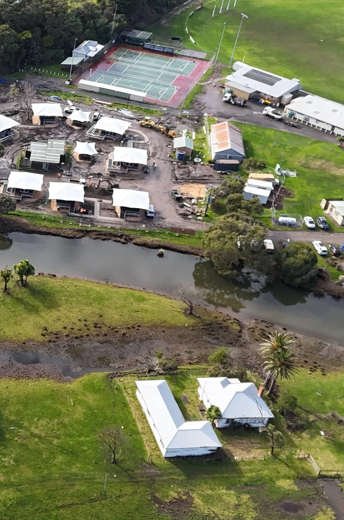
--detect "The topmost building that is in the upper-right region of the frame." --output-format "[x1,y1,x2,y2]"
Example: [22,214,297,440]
[225,61,312,106]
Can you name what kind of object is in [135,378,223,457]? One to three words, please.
building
